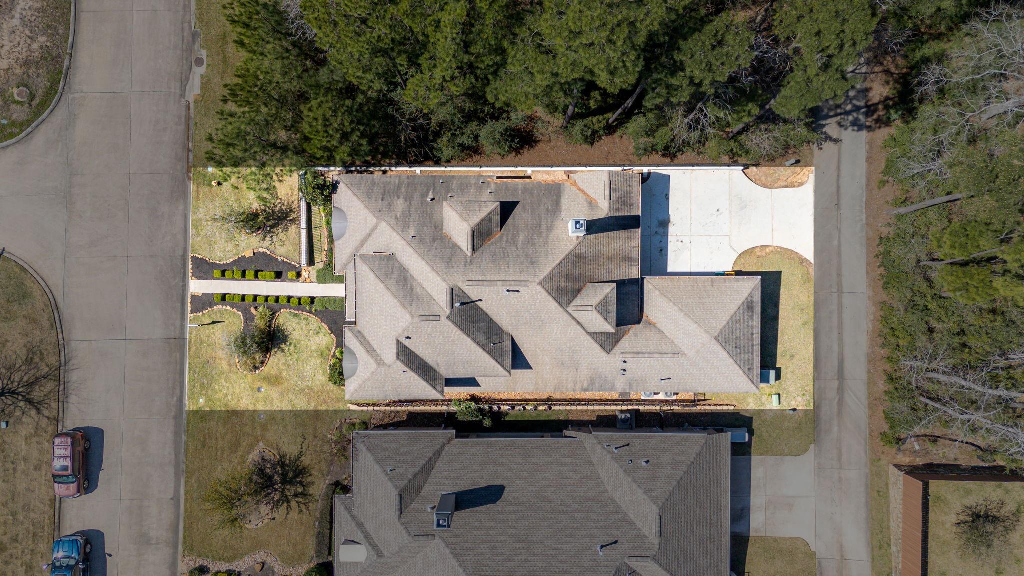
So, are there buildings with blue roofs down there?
No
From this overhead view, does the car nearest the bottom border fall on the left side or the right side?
left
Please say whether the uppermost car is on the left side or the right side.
left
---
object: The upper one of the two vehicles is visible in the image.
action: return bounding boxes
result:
[51,427,93,498]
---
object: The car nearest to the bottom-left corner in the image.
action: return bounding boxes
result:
[53,533,95,576]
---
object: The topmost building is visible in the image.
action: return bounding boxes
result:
[328,170,763,403]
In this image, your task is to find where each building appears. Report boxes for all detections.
[328,170,763,403]
[331,426,733,576]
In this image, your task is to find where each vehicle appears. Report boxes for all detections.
[51,427,93,498]
[53,533,95,576]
